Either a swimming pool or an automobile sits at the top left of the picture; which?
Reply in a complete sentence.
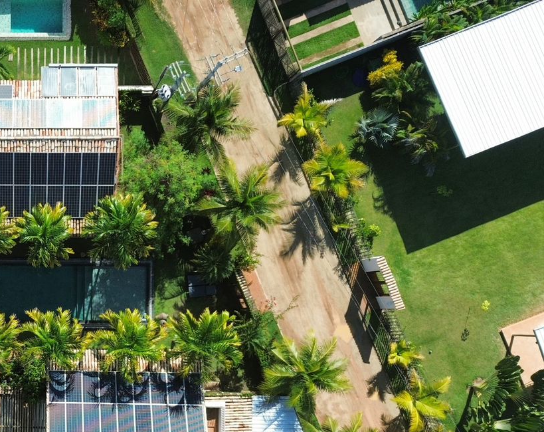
You can see a swimming pool at the top left of the picture.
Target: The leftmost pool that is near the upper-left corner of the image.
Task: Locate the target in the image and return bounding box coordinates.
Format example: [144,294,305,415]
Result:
[0,0,71,39]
